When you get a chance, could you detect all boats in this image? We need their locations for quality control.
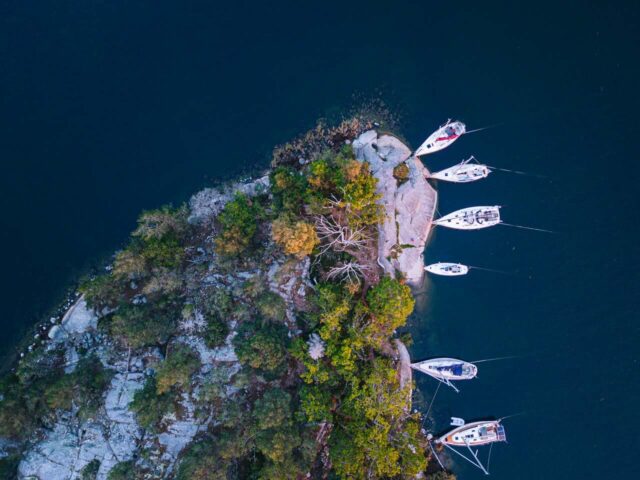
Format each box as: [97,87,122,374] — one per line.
[432,204,503,229]
[423,262,471,276]
[436,421,509,479]
[429,158,490,183]
[414,122,466,156]
[409,358,481,391]
[451,416,465,426]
